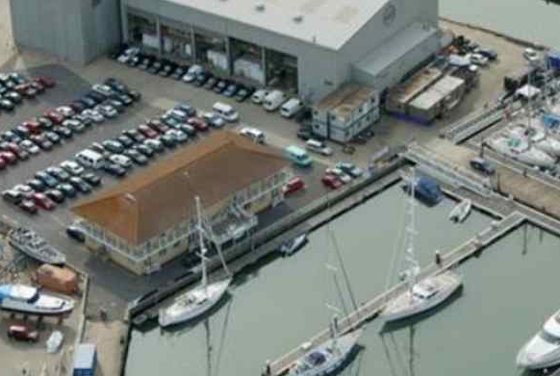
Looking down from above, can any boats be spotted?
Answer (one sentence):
Yes, a boat appears in the view.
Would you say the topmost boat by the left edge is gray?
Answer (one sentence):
Yes, the topmost boat by the left edge is gray.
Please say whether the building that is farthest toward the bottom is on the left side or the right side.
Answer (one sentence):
The building that is farthest toward the bottom is on the left side of the image.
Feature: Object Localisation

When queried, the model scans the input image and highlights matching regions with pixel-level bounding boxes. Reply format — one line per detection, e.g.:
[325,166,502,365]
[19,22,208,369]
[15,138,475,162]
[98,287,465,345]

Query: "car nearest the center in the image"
[286,179,304,192]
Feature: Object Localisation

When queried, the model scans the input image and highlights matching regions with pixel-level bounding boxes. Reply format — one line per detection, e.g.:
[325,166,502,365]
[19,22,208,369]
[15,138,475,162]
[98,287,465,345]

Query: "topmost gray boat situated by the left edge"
[1,228,67,266]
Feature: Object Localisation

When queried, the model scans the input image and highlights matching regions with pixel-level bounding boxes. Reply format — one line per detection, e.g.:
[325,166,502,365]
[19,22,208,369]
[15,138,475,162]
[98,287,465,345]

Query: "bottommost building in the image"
[70,131,294,273]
